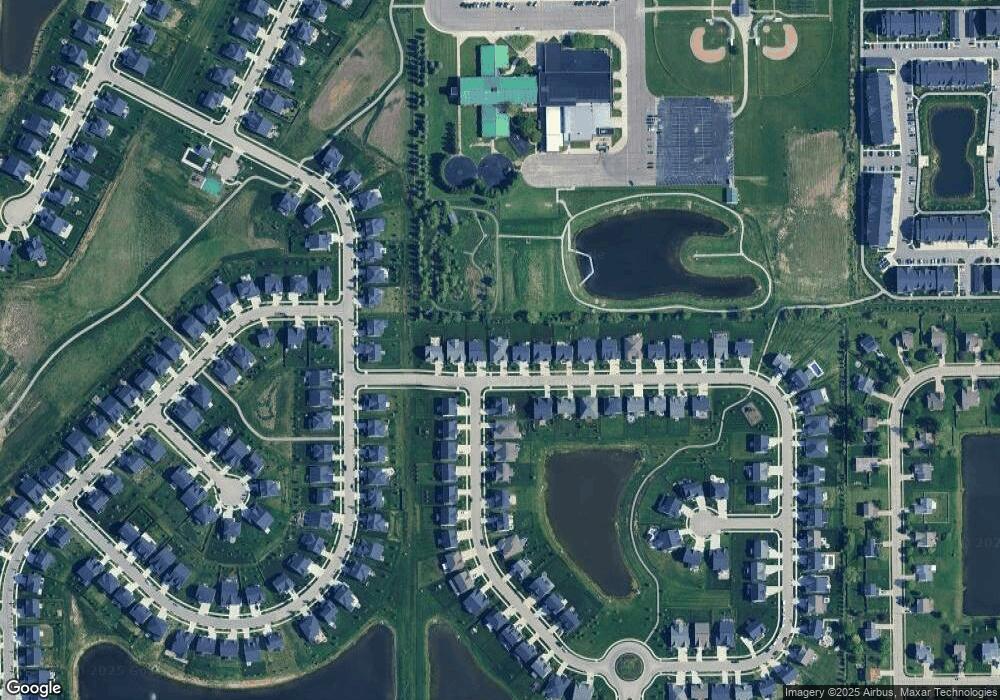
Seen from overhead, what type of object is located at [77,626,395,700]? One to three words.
pond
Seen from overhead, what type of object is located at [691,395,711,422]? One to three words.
house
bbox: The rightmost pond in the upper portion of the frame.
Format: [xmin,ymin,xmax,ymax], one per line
[929,106,975,199]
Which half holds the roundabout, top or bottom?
bottom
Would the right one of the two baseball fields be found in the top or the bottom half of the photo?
top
